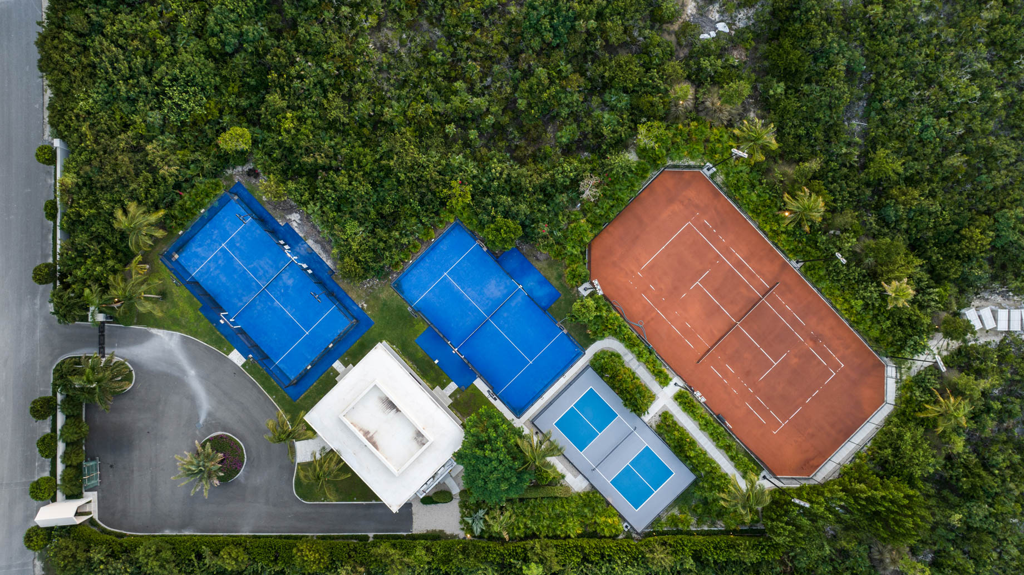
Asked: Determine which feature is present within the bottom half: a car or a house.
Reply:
house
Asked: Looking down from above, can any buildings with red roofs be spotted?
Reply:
No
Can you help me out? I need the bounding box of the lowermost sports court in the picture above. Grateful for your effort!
[534,368,696,533]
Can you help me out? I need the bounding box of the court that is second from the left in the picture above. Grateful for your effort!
[393,221,582,413]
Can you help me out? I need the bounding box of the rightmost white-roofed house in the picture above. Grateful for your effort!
[303,339,467,514]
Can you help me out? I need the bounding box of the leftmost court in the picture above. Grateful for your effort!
[160,182,374,401]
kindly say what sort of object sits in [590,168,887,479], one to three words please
tennis court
